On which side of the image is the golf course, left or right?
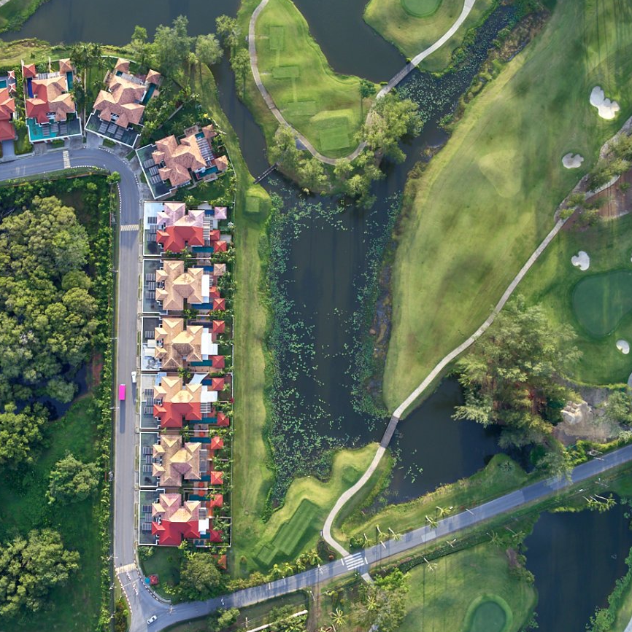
right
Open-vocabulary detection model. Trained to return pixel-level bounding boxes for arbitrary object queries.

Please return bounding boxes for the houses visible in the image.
[0,84,18,139]
[136,136,211,199]
[84,74,147,148]
[139,492,210,548]
[27,74,82,142]
[141,375,217,430]
[143,200,215,256]
[140,434,206,489]
[141,318,218,372]
[142,259,213,313]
